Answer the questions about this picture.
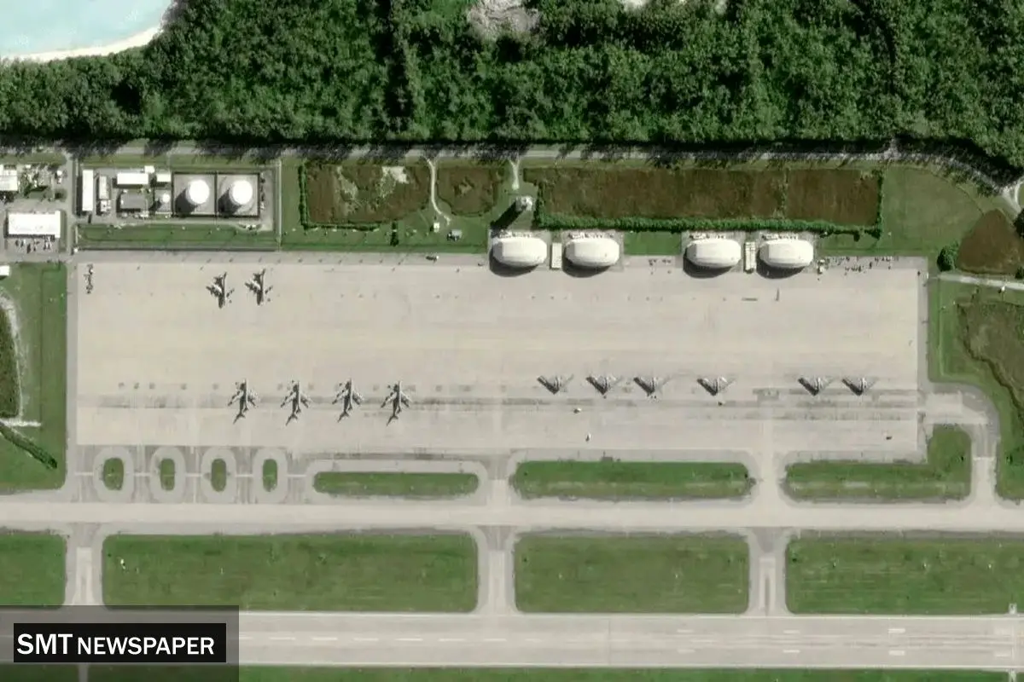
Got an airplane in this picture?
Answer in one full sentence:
Yes, there's an airplane down there.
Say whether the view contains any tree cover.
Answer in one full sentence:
Yes, there's tree cover in this view.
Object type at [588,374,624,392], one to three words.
airplane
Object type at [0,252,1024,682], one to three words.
airport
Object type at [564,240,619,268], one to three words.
hangar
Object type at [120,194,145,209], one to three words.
building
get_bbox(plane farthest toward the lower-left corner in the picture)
[232,379,262,409]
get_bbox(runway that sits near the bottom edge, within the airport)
[0,611,1024,670]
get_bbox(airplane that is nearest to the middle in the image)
[539,374,576,392]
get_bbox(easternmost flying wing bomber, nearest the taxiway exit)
[844,376,880,394]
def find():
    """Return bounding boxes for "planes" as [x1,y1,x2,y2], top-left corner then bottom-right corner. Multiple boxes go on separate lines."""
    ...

[210,277,238,306]
[844,376,880,394]
[232,379,262,409]
[588,374,624,392]
[636,375,672,392]
[539,374,576,392]
[249,274,277,303]
[385,381,415,411]
[800,376,836,394]
[337,379,367,408]
[284,381,314,412]
[699,376,735,393]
